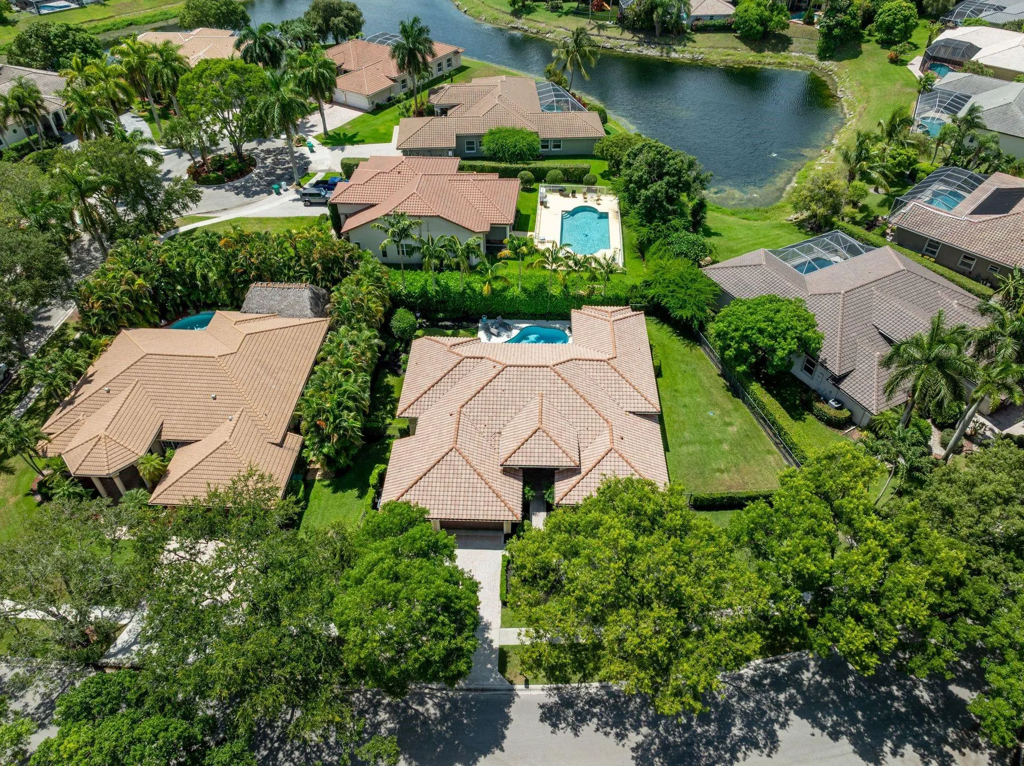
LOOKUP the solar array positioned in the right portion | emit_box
[904,182,1024,221]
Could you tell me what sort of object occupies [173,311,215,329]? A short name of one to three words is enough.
swimming pool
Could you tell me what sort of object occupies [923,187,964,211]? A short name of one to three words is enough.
swimming pool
